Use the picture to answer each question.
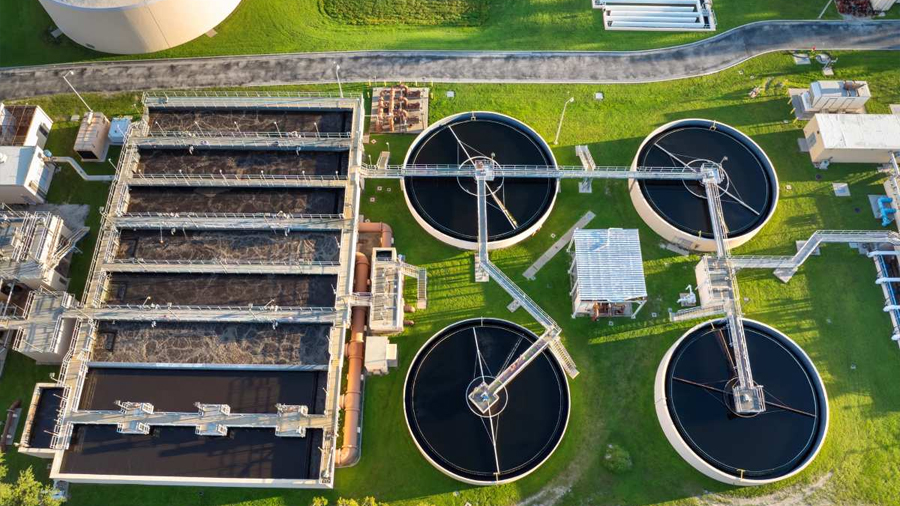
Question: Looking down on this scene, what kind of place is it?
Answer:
industrial area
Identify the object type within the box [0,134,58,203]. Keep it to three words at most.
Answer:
building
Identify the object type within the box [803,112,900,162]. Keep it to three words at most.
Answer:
building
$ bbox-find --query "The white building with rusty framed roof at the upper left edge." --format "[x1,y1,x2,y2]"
[0,104,54,141]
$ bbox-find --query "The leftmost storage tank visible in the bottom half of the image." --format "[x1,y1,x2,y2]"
[403,316,580,485]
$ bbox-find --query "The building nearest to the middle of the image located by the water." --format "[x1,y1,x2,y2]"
[347,248,427,336]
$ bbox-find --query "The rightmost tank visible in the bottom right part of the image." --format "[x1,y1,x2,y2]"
[654,305,830,485]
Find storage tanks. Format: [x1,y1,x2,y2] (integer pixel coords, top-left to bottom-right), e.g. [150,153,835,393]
[628,118,780,252]
[403,110,558,249]
[592,0,717,29]
[403,316,580,485]
[39,0,243,54]
[654,305,830,485]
